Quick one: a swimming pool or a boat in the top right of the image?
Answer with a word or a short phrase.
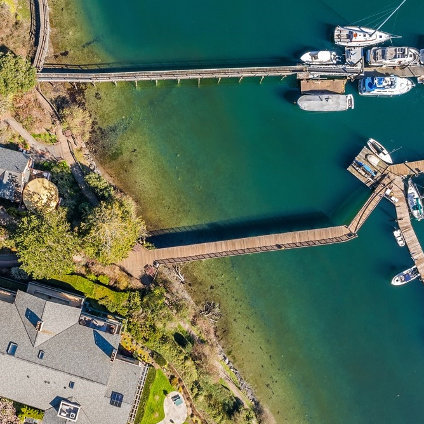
boat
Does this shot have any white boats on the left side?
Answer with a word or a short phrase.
No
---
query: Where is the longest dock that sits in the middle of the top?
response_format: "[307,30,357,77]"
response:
[35,64,306,86]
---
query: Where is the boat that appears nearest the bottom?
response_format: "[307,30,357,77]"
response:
[393,268,423,283]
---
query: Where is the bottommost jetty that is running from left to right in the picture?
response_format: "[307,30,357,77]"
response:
[116,227,358,285]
